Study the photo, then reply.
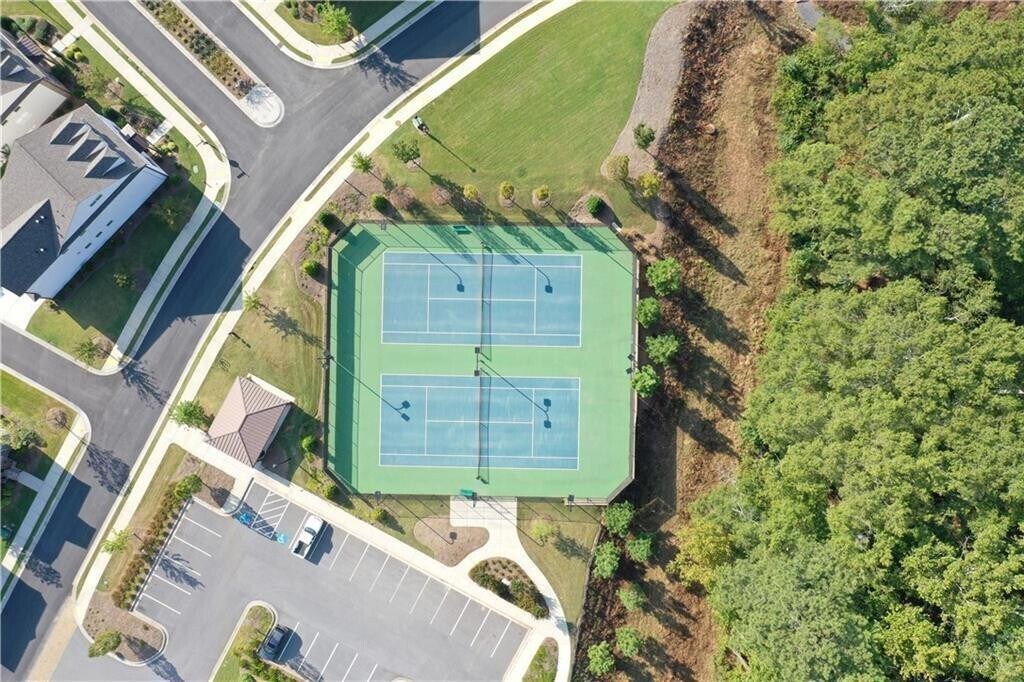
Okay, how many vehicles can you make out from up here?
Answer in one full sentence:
The count of vehicles comes to 2.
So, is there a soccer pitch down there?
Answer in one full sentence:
No, there isn't any soccer pitch down there.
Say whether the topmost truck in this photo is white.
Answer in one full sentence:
Yes, the topmost truck is white.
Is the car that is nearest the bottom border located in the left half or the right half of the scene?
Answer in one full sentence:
The car that is nearest the bottom border appears in the left half of the scene.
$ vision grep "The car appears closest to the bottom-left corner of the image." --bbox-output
[261,623,291,662]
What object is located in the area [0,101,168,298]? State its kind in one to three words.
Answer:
house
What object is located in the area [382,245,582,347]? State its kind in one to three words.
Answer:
tennis court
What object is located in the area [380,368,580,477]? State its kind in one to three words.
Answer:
tennis court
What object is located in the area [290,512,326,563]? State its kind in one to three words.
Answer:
truck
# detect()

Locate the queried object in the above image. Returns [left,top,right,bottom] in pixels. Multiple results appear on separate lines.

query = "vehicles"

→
[290,512,326,563]
[261,623,291,662]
